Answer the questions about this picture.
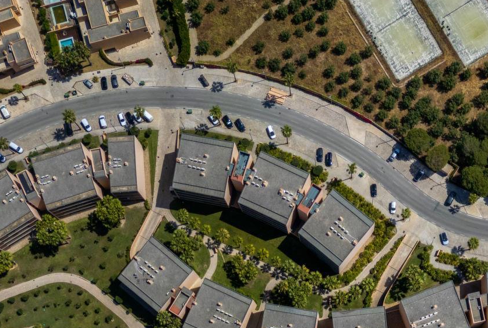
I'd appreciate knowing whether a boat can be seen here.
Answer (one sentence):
No, there appears to be no boat in this shot.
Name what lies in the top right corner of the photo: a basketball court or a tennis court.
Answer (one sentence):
What appears in the top right corner of the photo is a tennis court.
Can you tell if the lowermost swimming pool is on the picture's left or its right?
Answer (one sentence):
The lowermost swimming pool appears in the left half of the scene.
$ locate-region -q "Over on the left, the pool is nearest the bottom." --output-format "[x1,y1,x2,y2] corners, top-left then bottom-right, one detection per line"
[57,27,82,55]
